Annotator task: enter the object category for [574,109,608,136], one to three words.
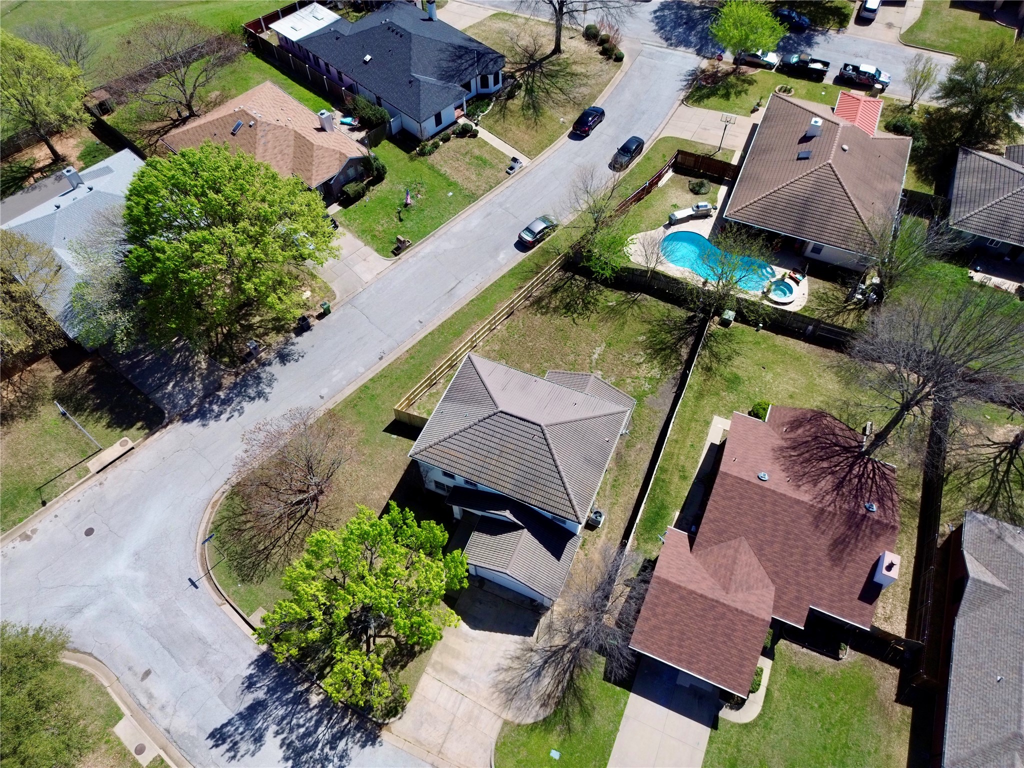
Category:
car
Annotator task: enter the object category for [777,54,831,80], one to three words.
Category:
truck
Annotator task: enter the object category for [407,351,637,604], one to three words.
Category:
house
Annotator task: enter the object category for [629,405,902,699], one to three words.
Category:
house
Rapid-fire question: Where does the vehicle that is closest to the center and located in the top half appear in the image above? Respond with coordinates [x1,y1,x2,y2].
[516,216,559,250]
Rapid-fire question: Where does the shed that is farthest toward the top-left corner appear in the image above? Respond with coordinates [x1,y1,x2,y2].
[78,91,117,125]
